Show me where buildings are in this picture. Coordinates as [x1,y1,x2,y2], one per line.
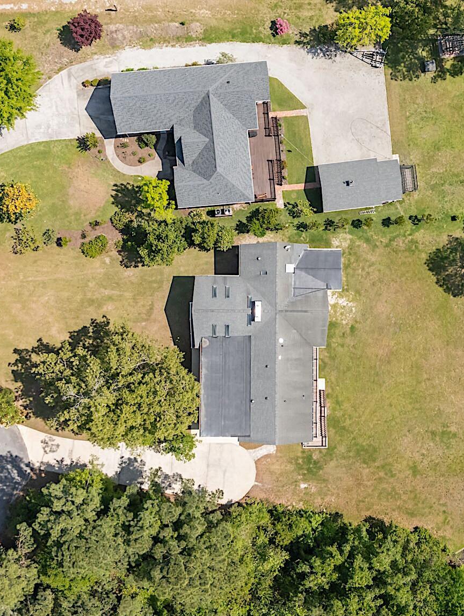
[423,59,436,74]
[111,60,282,209]
[318,158,403,212]
[190,244,343,449]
